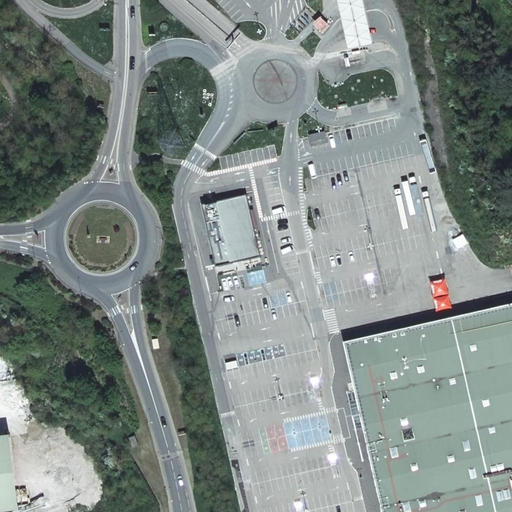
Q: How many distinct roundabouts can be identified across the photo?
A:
two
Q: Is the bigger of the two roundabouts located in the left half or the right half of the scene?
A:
left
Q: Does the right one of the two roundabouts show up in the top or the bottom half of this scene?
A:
top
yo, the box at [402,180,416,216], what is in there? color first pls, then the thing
white vehicle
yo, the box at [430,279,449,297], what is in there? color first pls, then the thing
red gazebo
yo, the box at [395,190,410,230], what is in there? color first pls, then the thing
white vehicle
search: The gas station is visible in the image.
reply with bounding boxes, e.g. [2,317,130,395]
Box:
[338,0,373,48]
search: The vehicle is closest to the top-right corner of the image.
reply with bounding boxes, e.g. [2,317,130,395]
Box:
[420,138,436,173]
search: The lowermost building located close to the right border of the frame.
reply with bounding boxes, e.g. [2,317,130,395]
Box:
[344,304,512,512]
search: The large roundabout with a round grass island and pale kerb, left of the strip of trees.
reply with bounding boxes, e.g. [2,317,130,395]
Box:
[44,181,161,295]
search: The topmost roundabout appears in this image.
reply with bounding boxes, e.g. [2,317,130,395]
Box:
[236,41,316,121]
